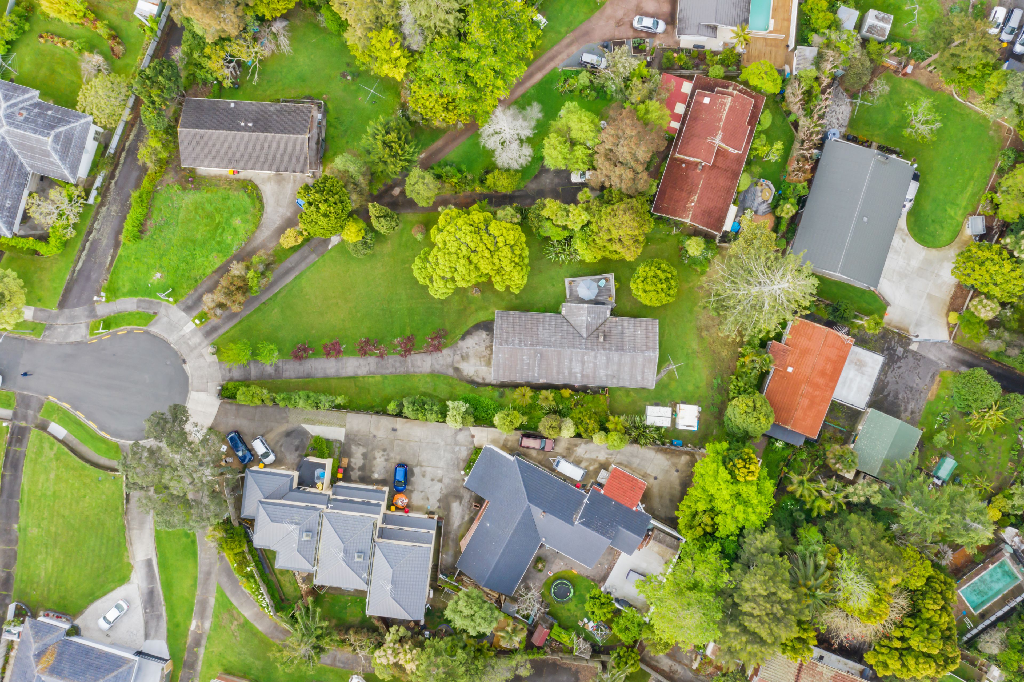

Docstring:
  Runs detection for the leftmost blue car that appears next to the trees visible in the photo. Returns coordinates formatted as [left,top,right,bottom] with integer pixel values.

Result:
[225,431,250,465]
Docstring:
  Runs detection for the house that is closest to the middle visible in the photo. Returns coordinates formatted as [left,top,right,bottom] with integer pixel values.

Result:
[492,303,659,389]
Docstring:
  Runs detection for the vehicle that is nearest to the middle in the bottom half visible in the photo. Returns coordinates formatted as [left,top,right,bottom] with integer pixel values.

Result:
[520,436,555,452]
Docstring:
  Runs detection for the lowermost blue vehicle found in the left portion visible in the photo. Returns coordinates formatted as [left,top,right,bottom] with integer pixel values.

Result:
[392,464,407,493]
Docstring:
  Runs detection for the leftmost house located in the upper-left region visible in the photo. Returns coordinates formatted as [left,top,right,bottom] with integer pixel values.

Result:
[0,78,104,239]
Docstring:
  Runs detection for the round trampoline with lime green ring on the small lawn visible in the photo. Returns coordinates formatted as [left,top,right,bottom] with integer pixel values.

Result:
[551,582,575,607]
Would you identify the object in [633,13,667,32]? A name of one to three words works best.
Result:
car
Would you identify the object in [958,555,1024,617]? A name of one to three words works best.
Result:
swimming pool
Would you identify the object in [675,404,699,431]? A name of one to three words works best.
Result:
shed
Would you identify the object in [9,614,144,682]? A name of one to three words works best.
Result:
house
